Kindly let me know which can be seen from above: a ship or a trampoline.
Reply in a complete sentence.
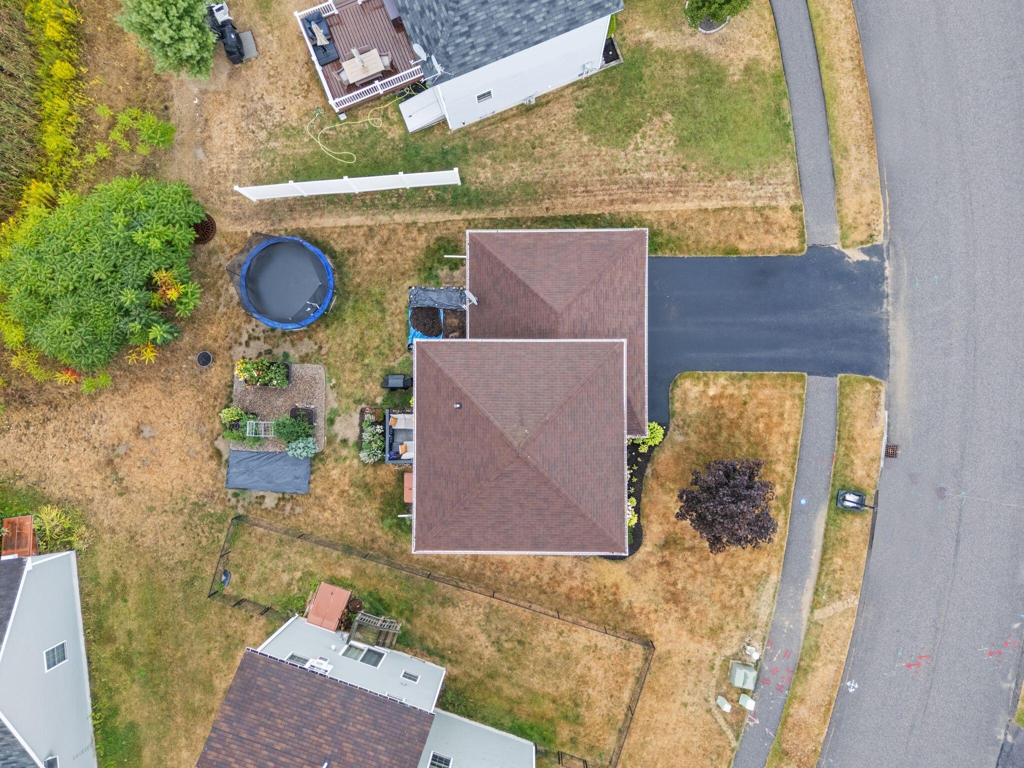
The image shows a trampoline.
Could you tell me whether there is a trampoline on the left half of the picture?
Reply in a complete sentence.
Yes, a trampoline shows up on the left half of the picture.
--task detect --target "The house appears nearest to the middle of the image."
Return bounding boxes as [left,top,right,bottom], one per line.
[398,229,649,555]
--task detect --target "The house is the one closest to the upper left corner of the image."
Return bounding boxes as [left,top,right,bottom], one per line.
[394,0,624,134]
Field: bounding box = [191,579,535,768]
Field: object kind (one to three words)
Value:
house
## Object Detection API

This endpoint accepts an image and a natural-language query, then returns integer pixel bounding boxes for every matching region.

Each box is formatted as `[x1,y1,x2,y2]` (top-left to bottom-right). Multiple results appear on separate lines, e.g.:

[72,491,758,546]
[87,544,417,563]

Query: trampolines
[224,231,341,333]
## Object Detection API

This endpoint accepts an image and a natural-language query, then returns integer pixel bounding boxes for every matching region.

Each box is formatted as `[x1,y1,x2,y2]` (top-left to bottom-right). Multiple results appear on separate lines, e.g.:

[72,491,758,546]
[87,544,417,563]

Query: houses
[191,579,535,768]
[398,229,649,555]
[0,516,97,768]
[394,0,624,134]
